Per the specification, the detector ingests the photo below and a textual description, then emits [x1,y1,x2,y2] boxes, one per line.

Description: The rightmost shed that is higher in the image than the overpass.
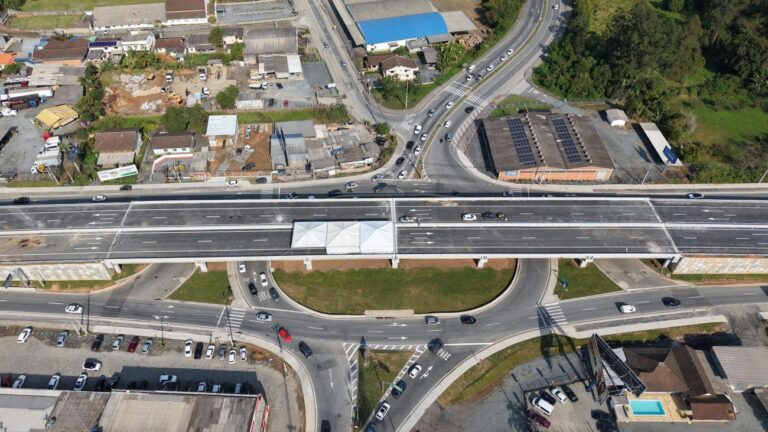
[640,123,680,172]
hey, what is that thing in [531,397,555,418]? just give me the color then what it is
white vehicle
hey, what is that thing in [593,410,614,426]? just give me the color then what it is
black car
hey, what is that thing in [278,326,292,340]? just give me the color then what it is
red car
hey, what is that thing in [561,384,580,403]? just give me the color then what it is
black car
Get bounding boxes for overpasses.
[0,199,768,267]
